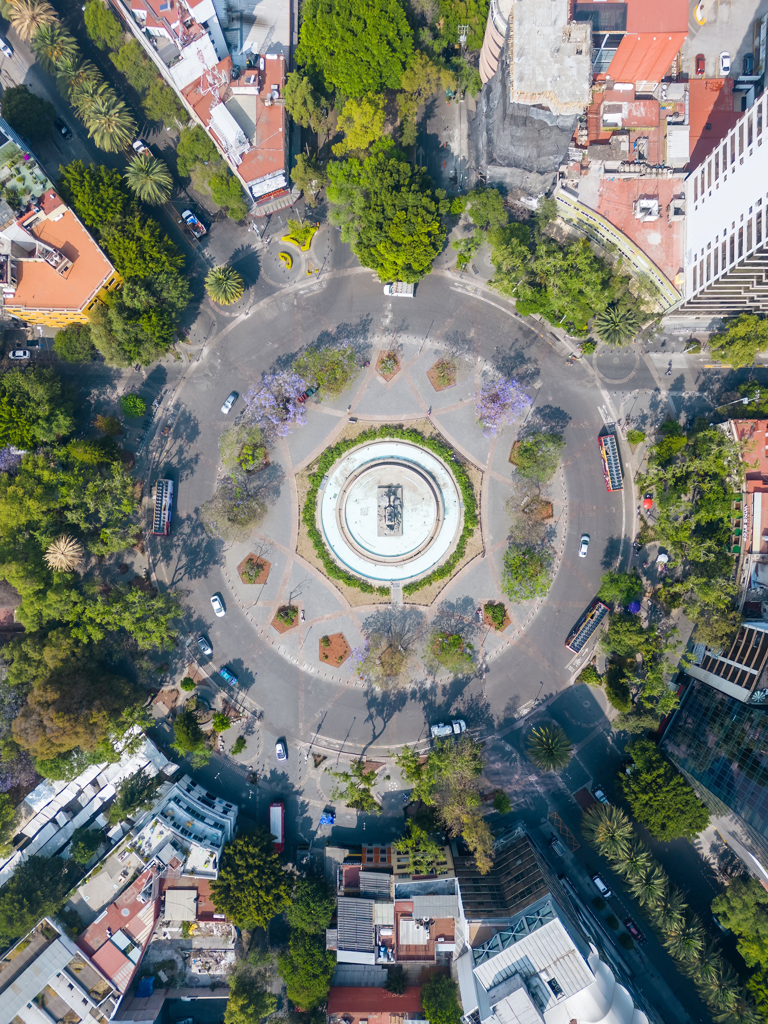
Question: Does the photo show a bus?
Yes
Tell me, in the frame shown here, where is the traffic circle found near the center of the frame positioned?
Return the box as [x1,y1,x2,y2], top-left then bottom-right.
[140,263,641,764]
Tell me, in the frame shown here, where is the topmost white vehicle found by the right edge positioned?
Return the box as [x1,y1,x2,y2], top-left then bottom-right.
[718,52,731,76]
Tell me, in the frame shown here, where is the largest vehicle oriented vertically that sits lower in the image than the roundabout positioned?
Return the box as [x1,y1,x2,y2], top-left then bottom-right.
[270,796,286,850]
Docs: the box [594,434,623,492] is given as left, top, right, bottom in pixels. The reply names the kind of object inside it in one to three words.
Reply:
bus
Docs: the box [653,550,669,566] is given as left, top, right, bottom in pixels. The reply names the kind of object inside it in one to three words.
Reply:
umbrella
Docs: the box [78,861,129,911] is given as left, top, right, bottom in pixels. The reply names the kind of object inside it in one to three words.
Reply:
house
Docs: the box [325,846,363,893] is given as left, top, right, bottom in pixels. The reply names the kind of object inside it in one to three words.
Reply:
building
